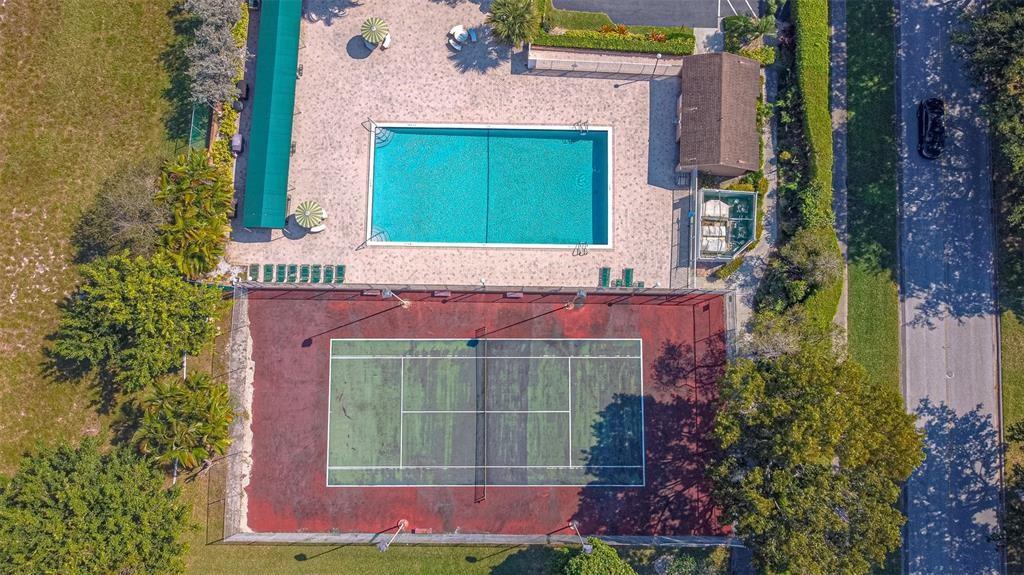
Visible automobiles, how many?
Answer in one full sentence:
The count comes to 1 automobile.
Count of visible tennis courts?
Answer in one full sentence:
My tally gives 1 tennis court in this photo.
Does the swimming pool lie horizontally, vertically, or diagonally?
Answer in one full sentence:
The swimming pool has been laid out horizontally relative to the frame.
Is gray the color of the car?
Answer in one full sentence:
No, from above the car looks black.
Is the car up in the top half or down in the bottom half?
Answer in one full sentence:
The car is in the top half of the image.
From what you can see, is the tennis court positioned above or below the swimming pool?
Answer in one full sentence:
It's below the swimming pool that the tennis court shows up.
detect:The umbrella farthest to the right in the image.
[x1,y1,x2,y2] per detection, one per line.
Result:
[361,18,388,45]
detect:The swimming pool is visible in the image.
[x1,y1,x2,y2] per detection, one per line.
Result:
[366,123,613,249]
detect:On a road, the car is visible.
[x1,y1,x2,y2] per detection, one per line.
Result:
[917,98,949,158]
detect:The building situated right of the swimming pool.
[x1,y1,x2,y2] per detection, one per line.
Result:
[674,53,760,173]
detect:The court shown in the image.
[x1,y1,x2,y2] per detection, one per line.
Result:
[222,289,742,539]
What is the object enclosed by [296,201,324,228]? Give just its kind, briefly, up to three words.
umbrella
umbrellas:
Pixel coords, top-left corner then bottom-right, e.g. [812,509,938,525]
[296,201,324,228]
[361,18,388,45]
